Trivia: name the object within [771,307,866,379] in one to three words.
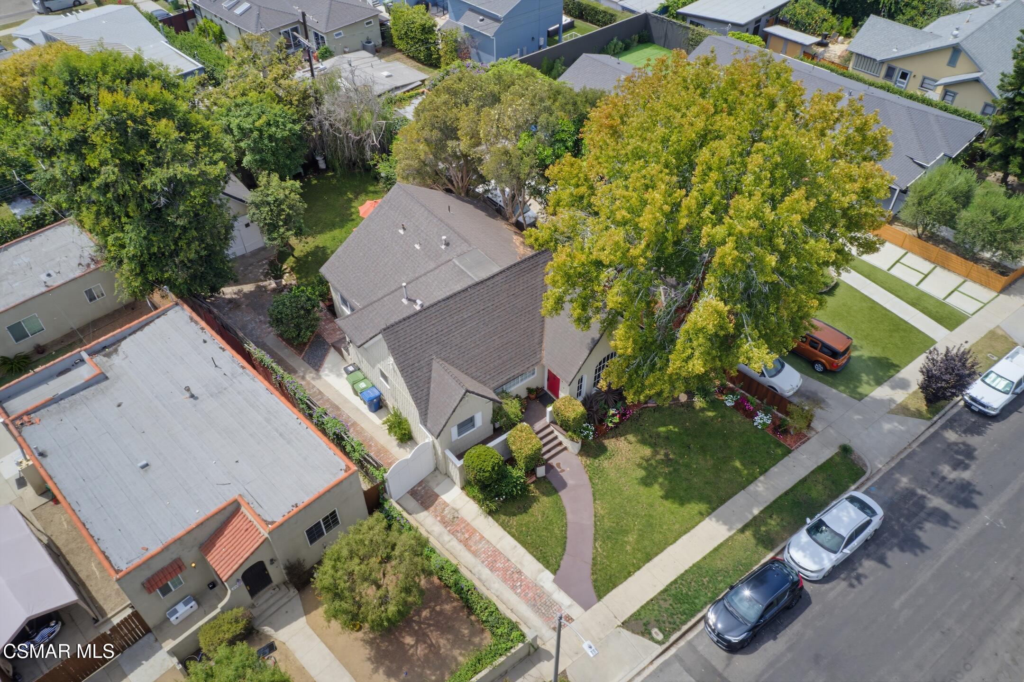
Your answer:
car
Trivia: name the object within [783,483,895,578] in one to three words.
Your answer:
car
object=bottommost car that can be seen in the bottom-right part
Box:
[700,548,812,653]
